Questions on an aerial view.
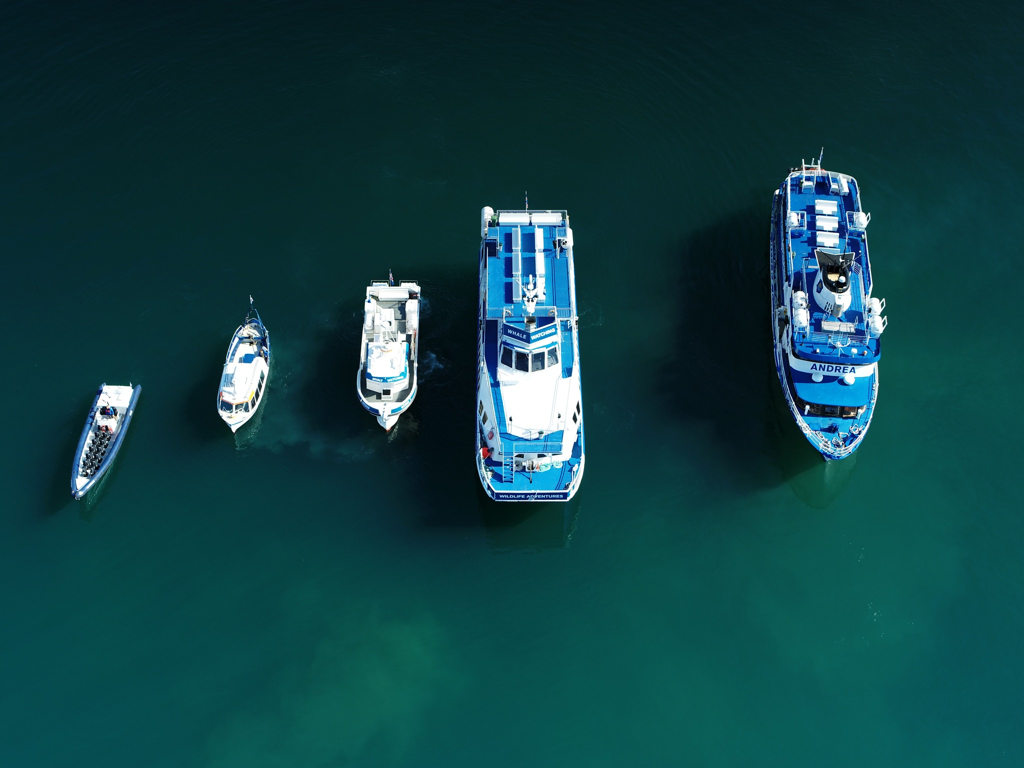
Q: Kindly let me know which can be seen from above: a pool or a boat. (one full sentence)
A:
There is a boat in the scene.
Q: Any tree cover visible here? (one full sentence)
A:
No, the picture contains no tree cover.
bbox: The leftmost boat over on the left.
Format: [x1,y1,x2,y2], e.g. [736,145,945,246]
[70,382,144,502]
